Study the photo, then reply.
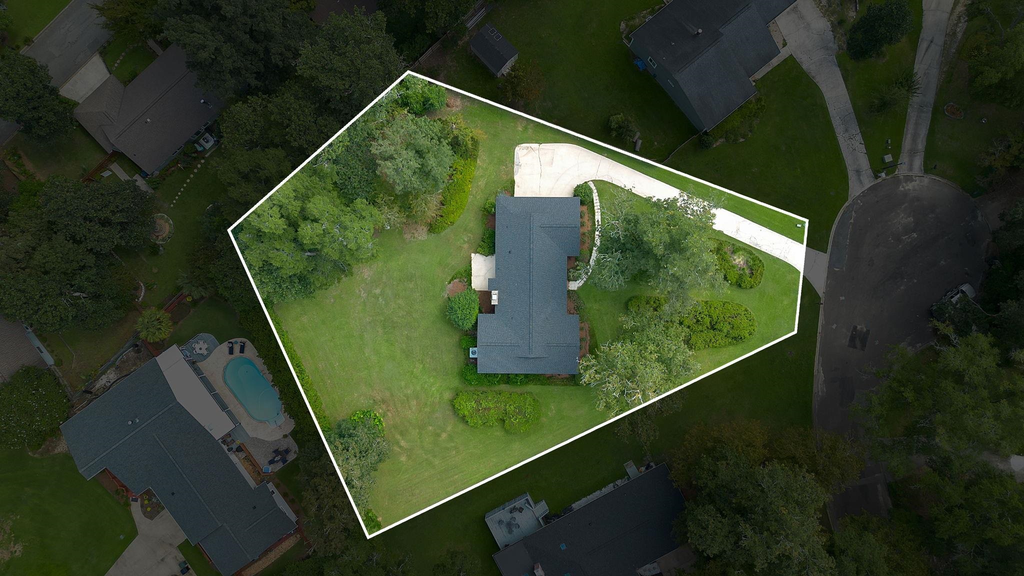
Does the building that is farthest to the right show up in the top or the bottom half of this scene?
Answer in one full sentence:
Seen from above, the building that is farthest to the right lies in the top half of the view.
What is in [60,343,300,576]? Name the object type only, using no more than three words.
building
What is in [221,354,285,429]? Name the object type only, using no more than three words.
swimming pool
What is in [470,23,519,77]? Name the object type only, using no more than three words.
shed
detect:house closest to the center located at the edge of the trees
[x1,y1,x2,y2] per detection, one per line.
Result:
[477,197,580,374]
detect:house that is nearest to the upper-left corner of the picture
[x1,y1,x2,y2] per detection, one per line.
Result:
[74,45,223,174]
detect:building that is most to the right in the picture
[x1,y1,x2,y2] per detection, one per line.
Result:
[625,0,795,137]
